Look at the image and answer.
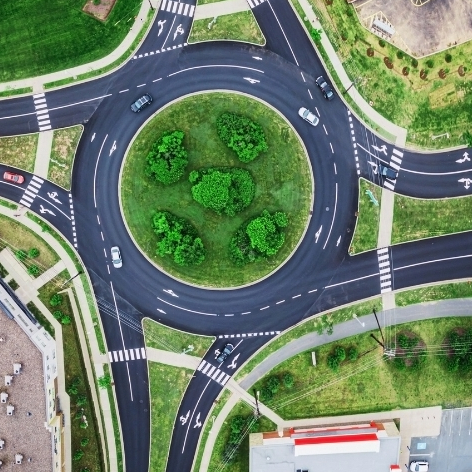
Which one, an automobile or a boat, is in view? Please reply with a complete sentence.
Visible in the photo is an automobile.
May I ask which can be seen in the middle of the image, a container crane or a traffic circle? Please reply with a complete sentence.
You can see a traffic circle in the middle of the image.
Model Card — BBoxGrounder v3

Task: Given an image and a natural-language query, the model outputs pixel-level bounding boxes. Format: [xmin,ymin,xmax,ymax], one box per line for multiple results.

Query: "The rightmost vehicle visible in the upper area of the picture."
[376,164,401,180]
